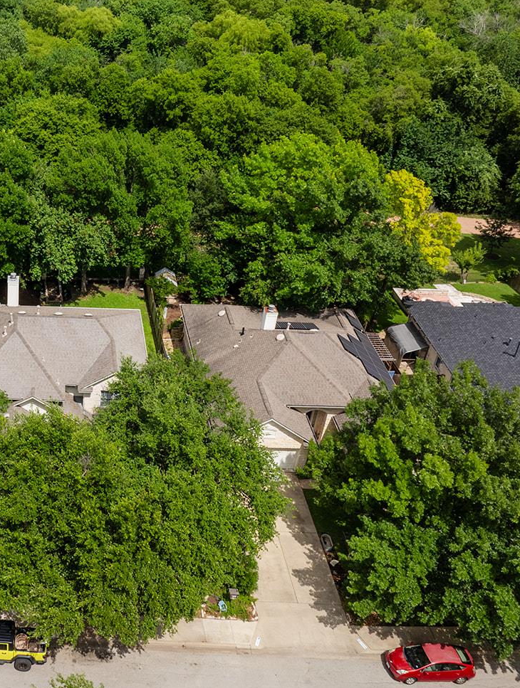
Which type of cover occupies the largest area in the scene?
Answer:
trees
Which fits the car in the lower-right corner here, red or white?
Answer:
red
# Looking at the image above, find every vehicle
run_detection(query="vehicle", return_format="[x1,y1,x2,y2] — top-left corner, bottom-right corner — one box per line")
[385,638,484,686]
[0,619,50,671]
